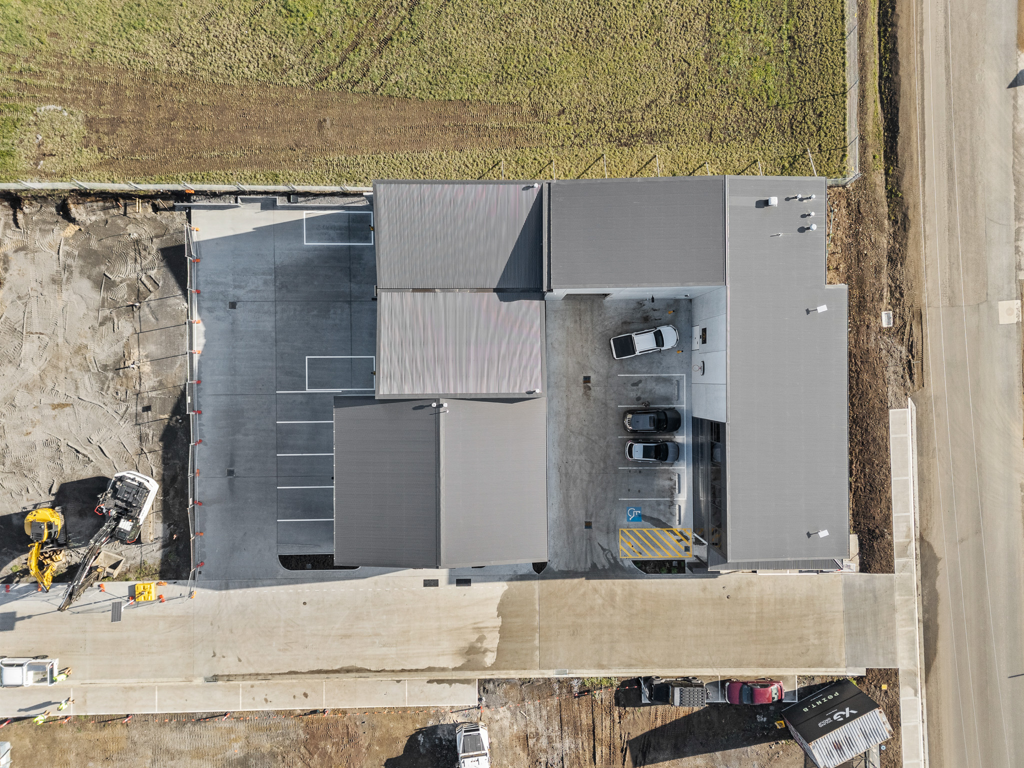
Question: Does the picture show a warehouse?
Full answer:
Yes, there is a warehouse in the image.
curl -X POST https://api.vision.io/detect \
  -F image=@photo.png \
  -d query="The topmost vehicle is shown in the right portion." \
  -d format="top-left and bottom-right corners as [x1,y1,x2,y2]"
[611,326,681,359]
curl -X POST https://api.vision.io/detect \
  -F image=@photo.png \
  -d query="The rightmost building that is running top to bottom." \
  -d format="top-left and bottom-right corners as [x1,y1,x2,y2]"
[690,176,850,571]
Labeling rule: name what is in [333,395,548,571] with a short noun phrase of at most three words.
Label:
warehouse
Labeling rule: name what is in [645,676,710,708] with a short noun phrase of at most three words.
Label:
car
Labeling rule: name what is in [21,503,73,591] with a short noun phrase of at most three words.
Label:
work vehicle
